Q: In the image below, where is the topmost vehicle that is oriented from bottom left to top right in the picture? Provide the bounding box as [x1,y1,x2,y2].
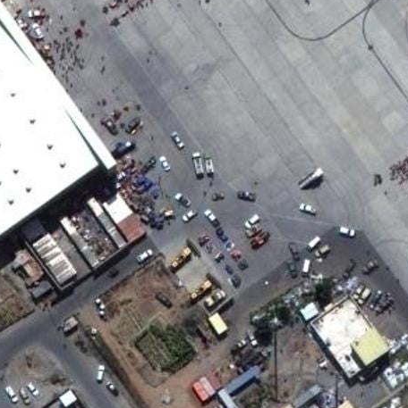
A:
[125,117,141,135]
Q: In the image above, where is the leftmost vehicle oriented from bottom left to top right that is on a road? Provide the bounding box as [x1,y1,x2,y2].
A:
[61,319,80,334]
